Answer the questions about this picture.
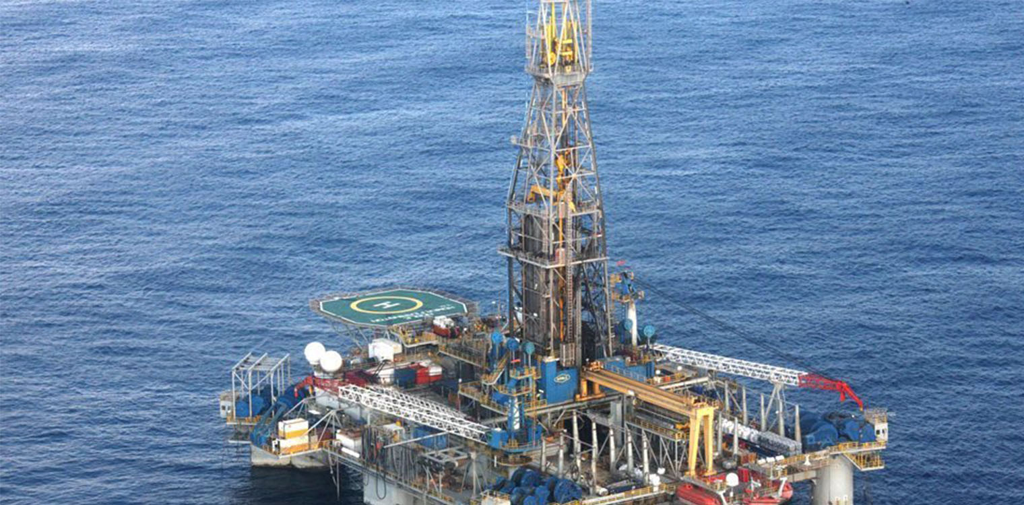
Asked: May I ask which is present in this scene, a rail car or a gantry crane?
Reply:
gantry crane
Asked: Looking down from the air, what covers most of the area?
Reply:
water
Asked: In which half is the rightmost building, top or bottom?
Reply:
bottom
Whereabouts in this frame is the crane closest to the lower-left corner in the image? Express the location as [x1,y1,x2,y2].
[305,364,539,465]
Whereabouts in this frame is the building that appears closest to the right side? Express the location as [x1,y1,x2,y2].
[868,414,890,444]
